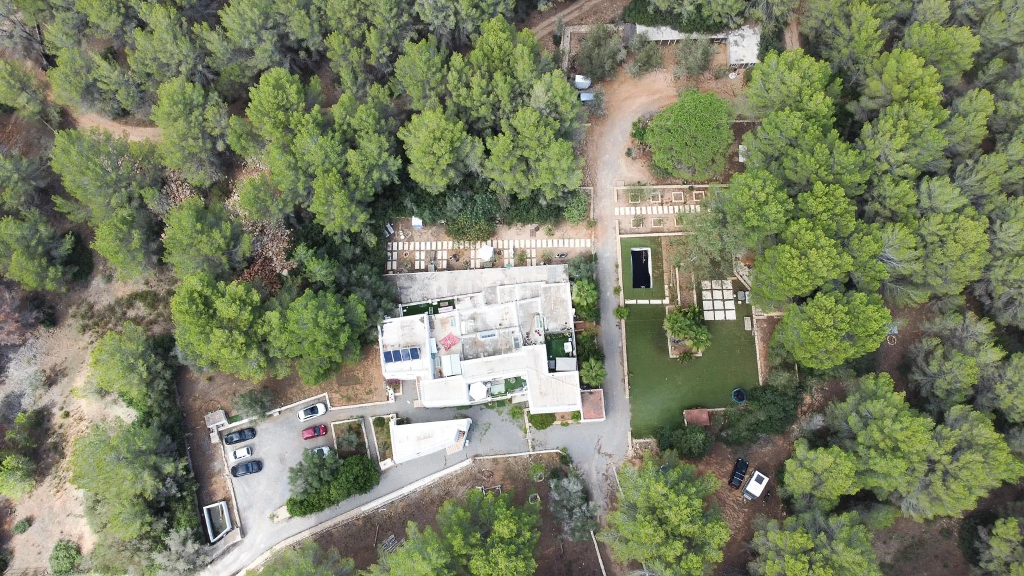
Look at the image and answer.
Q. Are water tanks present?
Yes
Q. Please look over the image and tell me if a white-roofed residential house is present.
Yes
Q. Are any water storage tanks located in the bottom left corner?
Yes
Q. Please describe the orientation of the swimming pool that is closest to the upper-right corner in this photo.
from top to bottom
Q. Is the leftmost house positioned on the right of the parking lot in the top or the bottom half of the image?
bottom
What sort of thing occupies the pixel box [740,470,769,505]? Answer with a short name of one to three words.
camper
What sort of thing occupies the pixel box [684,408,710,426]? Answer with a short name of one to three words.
shed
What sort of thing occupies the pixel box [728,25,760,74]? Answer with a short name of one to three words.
shed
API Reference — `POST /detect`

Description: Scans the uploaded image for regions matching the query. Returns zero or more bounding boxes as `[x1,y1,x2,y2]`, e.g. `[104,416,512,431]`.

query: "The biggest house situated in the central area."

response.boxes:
[378,264,604,423]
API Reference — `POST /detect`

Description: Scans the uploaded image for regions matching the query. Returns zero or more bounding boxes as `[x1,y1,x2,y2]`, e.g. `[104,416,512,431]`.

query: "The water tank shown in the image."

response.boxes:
[204,501,236,542]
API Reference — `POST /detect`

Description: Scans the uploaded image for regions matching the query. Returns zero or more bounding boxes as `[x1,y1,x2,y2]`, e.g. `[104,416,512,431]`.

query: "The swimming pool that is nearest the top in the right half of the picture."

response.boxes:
[631,248,653,288]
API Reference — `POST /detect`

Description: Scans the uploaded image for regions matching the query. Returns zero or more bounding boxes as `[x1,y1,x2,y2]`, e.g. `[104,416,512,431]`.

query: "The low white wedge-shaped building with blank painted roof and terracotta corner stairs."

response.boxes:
[378,414,474,470]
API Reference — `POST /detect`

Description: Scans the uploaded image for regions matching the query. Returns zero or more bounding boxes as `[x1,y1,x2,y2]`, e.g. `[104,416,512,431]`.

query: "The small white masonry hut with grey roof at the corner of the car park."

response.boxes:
[205,410,233,444]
